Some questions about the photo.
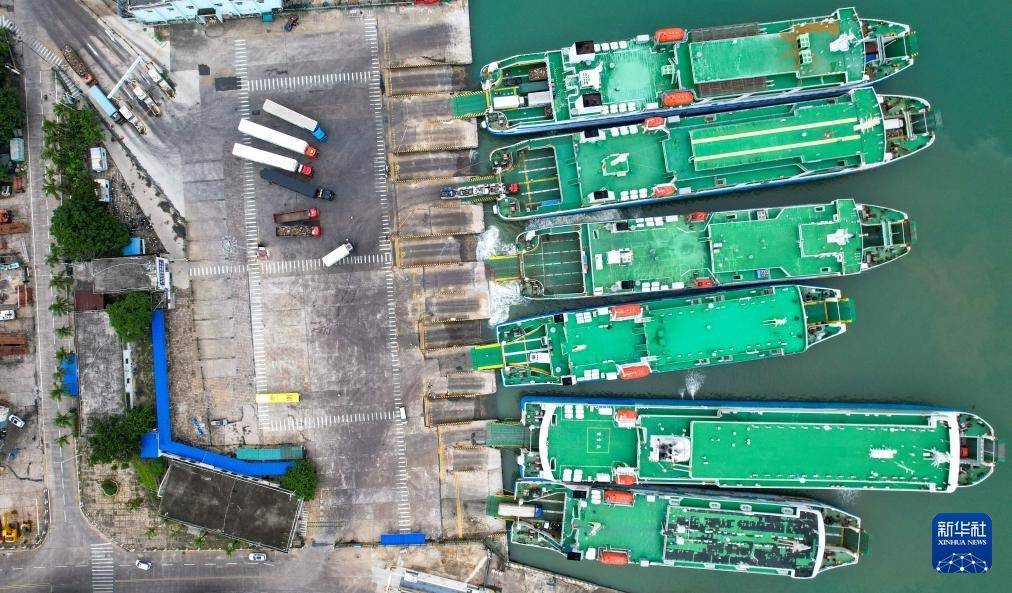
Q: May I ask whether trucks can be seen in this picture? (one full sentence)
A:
Yes, the photo shows a truck.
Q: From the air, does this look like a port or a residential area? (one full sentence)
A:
The area seen from above is a port.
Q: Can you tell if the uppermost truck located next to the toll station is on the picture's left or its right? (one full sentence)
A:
The uppermost truck located next to the toll station is on the left side of the image.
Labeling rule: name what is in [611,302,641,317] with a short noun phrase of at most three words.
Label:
boat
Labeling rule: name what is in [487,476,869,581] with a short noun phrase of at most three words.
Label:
ship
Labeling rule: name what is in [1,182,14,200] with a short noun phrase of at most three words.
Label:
vehicle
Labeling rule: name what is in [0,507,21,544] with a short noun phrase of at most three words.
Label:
work vehicle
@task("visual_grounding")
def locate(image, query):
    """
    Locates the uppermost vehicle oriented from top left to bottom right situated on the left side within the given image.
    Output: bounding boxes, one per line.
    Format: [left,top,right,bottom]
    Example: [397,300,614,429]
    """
[61,44,106,90]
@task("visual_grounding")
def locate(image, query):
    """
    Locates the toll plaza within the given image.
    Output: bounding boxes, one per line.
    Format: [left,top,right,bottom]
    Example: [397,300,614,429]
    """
[108,57,174,133]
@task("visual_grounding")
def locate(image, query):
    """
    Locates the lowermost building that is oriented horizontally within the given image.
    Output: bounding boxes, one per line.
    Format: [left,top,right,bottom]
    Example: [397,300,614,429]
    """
[399,562,468,593]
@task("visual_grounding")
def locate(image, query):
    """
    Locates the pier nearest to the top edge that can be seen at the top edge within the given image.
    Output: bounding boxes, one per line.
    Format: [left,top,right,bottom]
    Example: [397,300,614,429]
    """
[381,0,473,67]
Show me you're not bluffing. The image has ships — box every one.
[470,285,856,386]
[487,199,914,299]
[487,476,869,581]
[457,87,938,222]
[451,8,919,137]
[486,395,1005,494]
